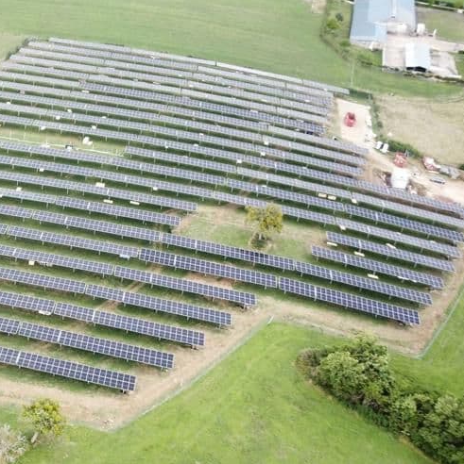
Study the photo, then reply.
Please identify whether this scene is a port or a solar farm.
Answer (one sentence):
It's a solar farm.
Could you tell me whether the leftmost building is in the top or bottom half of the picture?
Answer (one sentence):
The leftmost building is in the top half of the image.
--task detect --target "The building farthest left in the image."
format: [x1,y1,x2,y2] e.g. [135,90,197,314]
[349,0,388,54]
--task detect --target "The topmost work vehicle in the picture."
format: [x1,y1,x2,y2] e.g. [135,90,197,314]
[345,110,360,125]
